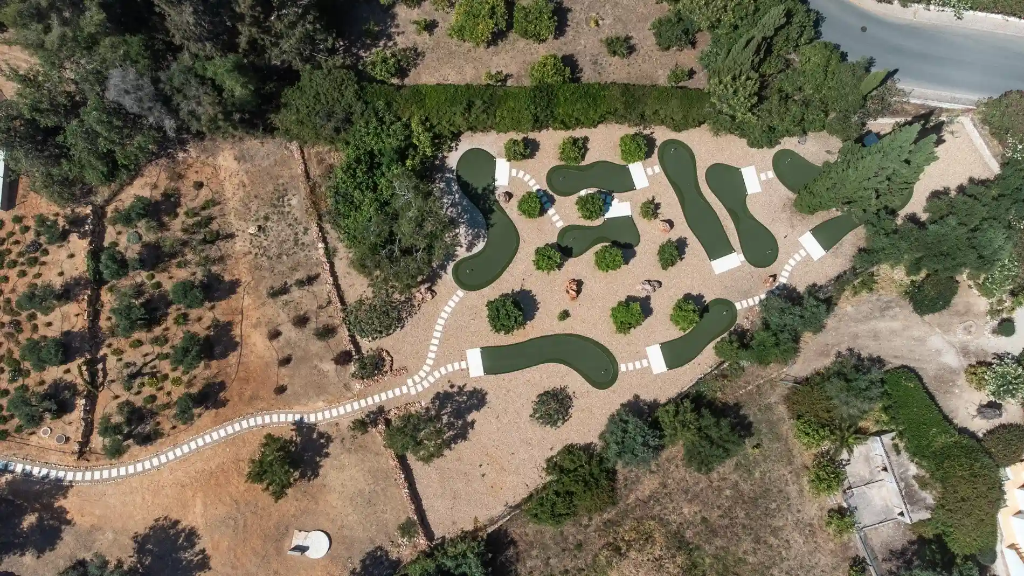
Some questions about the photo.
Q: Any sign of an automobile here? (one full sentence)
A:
No, there appears to be no automobile in this shot.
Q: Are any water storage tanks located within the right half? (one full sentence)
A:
No, looking within the right half, there is no water storage tank.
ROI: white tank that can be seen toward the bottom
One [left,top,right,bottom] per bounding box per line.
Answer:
[287,529,331,558]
